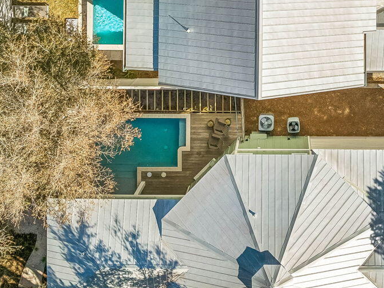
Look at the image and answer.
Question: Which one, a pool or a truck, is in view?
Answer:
pool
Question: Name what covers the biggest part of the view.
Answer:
buildings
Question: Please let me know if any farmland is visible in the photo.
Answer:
No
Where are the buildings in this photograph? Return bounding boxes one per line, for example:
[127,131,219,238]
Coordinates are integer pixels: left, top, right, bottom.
[122,0,384,97]
[44,123,384,288]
